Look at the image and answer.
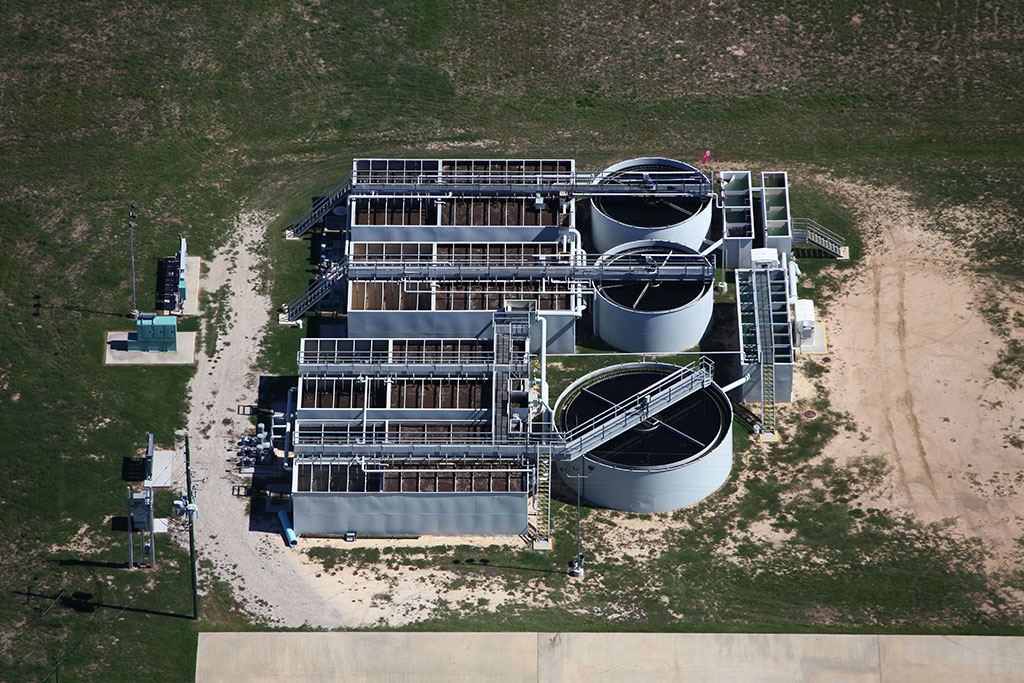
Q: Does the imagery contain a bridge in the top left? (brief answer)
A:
No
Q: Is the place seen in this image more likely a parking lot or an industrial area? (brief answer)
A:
industrial area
